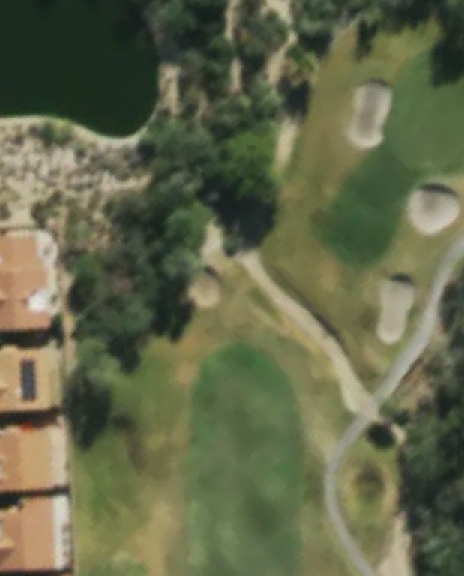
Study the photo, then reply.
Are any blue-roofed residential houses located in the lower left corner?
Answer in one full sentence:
No, there's no blue-roofed residential house to be seen in the lower left corner.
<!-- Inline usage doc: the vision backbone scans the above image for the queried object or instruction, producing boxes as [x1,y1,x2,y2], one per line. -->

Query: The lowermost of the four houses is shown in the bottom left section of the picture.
[0,496,71,570]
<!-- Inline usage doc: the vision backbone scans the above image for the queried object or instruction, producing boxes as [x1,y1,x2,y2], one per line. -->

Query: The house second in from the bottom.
[0,423,66,493]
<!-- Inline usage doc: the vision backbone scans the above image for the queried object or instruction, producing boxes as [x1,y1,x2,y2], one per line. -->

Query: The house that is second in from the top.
[0,344,63,412]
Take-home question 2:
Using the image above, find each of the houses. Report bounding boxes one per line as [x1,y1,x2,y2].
[0,344,63,412]
[0,423,66,493]
[0,230,60,331]
[0,496,71,570]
